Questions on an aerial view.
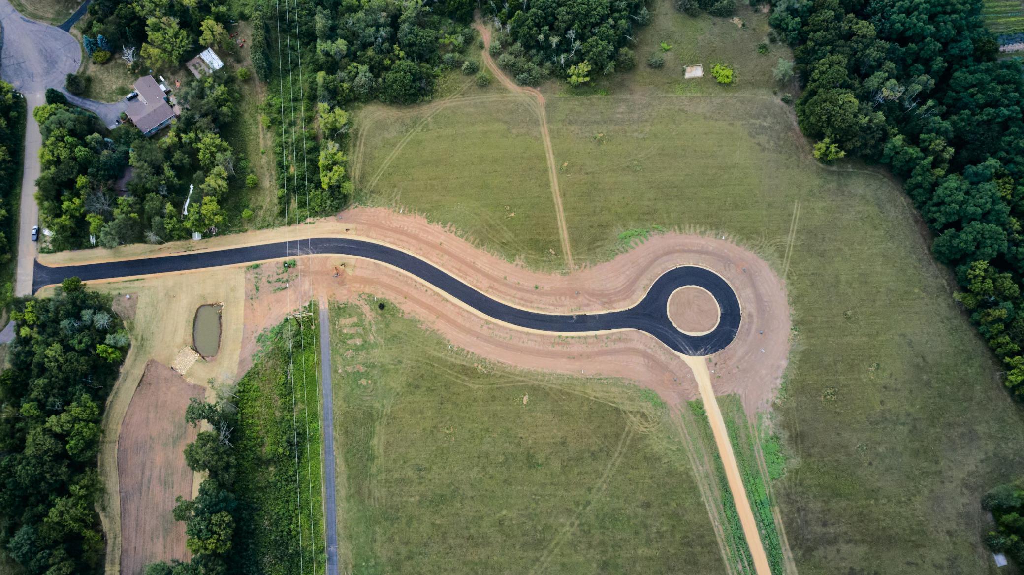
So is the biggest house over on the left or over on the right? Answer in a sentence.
The biggest house appears in the left half of the scene.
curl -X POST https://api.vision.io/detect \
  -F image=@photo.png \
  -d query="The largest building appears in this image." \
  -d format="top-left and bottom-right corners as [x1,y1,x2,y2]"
[128,76,175,135]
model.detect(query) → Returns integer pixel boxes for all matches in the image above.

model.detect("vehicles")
[31,227,40,240]
[125,91,139,100]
